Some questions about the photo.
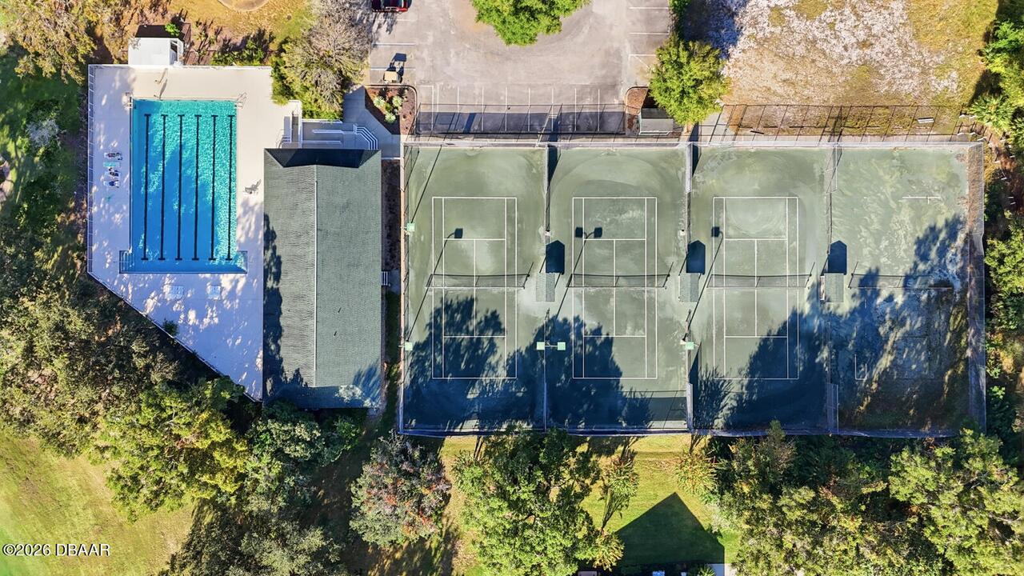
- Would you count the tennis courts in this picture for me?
4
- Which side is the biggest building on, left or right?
left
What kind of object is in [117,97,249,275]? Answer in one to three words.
swimming pool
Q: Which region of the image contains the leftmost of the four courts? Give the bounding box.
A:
[406,146,547,430]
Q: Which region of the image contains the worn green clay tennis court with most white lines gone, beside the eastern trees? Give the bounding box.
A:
[830,146,969,430]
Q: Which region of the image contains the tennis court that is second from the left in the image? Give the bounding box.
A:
[547,146,688,430]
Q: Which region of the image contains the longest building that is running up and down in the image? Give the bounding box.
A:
[266,149,382,409]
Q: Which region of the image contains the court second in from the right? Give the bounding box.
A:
[688,146,830,430]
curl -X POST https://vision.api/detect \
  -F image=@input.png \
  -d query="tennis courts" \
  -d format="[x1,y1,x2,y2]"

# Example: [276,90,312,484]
[406,146,547,430]
[547,146,688,430]
[830,146,969,430]
[688,146,830,430]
